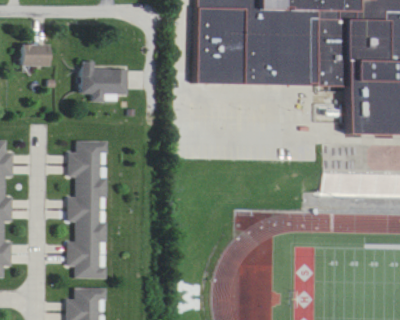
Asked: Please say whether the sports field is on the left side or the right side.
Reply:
right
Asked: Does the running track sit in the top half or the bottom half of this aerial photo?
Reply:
bottom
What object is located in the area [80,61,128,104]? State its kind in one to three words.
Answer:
house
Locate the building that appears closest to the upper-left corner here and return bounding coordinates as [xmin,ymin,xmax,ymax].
[21,44,54,66]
